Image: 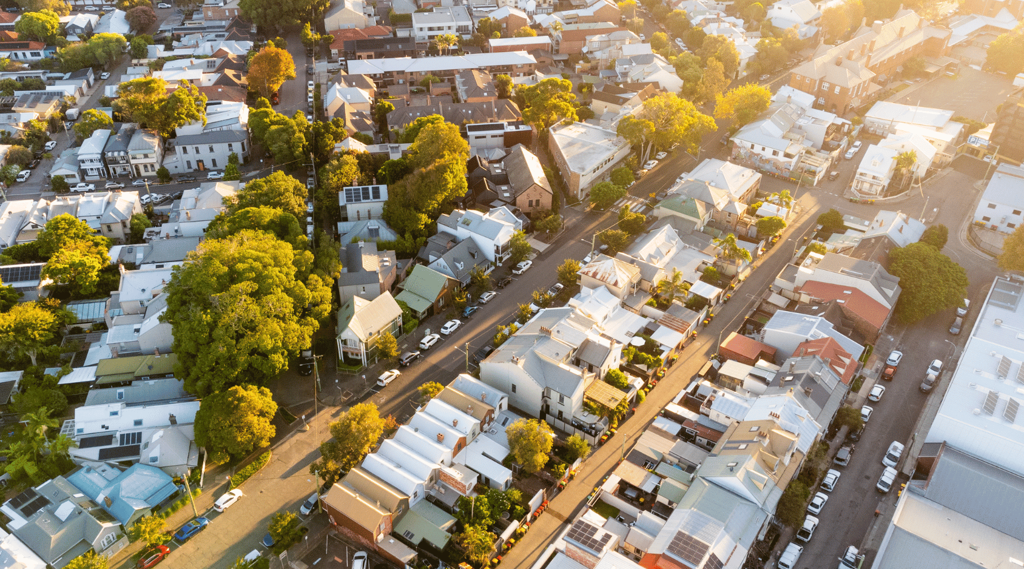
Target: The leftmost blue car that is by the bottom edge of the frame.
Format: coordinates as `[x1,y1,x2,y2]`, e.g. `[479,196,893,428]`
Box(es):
[174,519,207,544]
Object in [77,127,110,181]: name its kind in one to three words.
house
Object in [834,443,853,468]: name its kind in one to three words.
car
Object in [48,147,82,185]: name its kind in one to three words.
house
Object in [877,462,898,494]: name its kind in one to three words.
vehicle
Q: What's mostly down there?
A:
buildings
